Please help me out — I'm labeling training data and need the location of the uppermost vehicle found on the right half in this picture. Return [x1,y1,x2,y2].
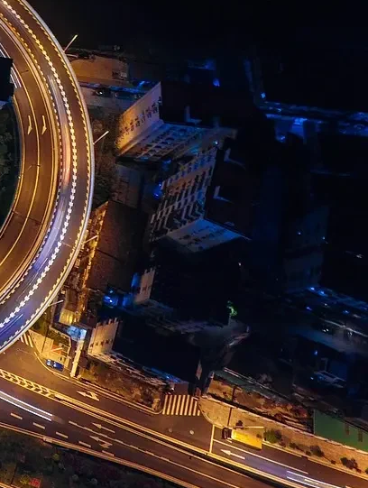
[224,427,269,447]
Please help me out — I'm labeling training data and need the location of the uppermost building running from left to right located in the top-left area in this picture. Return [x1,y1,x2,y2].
[72,57,129,86]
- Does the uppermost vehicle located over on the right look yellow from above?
Yes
